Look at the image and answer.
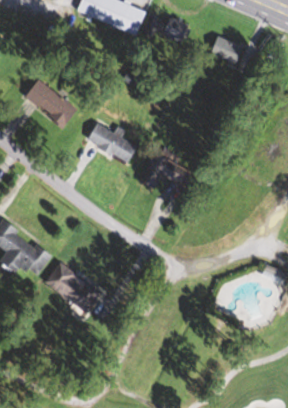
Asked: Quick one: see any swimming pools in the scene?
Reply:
Yes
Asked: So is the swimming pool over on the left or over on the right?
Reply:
right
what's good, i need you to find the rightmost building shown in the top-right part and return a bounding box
[212,36,241,64]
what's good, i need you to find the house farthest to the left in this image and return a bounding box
[0,218,51,276]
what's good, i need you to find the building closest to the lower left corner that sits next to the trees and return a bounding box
[44,263,88,308]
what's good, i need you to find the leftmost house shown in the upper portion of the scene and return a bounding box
[26,82,80,131]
